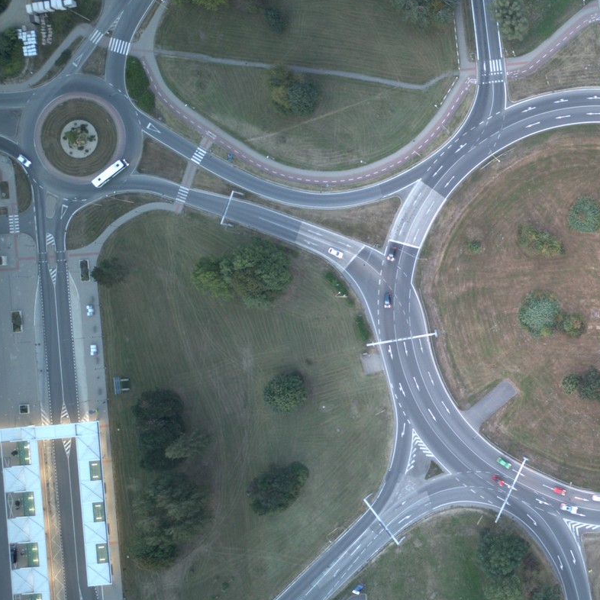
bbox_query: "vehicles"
[592,494,600,502]
[388,247,396,262]
[16,154,33,167]
[562,502,579,512]
[384,292,391,308]
[495,457,512,468]
[327,248,345,259]
[490,474,506,485]
[8,548,19,564]
[89,156,132,191]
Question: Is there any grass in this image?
Yes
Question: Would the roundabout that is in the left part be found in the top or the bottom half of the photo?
top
